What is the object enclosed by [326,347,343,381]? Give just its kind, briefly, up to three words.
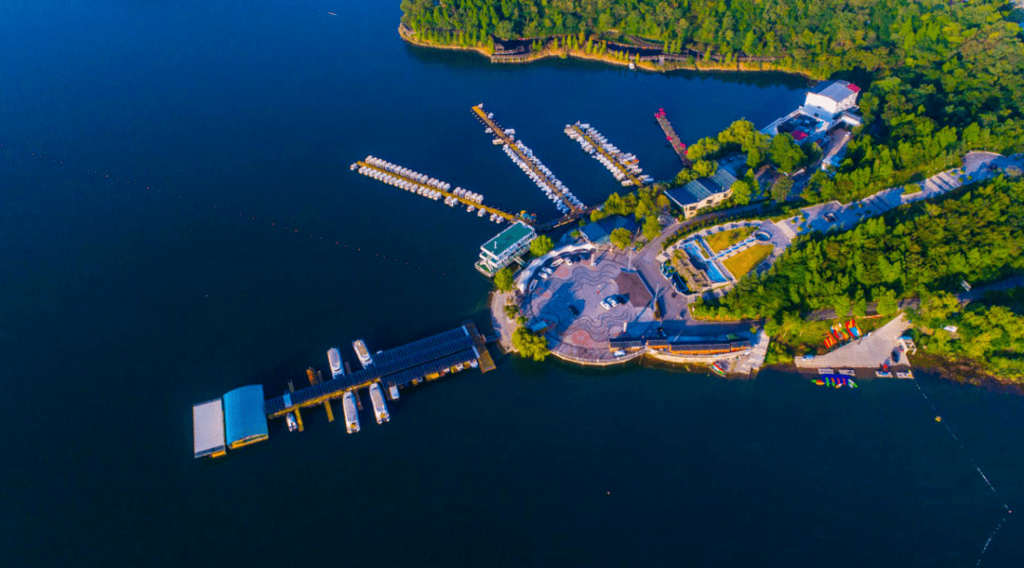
boat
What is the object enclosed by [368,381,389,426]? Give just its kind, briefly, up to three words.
boat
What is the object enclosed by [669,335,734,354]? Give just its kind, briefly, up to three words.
shed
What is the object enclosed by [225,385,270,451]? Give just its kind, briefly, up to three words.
building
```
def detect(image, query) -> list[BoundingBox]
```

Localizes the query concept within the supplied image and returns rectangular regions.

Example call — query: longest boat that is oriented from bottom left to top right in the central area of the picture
[469,218,536,274]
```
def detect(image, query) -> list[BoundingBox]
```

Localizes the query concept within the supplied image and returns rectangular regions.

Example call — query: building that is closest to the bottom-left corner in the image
[193,395,231,468]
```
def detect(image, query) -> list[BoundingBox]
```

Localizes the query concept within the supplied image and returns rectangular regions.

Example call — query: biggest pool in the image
[683,239,730,285]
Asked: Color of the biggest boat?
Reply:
blue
